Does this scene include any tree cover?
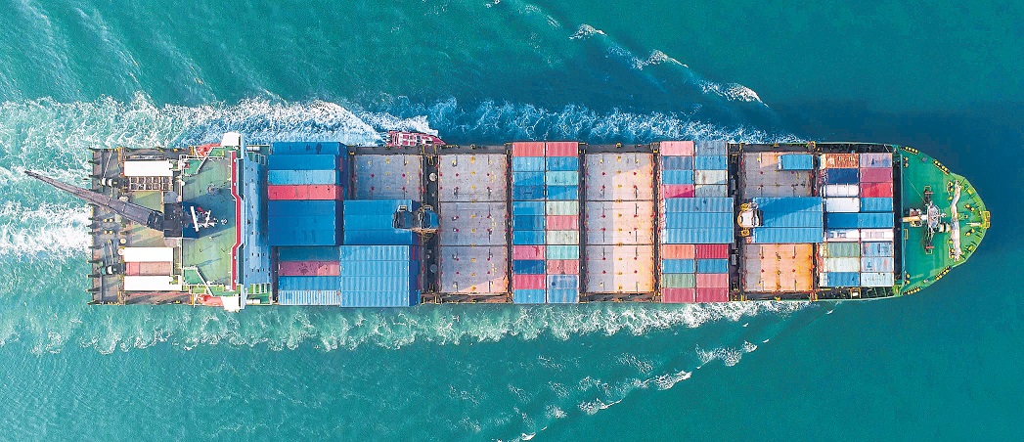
No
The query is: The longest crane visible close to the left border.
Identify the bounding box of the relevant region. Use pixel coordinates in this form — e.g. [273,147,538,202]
[21,170,202,238]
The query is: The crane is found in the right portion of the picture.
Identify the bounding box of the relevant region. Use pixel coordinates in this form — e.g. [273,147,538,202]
[726,203,763,234]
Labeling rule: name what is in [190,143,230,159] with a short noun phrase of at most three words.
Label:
boat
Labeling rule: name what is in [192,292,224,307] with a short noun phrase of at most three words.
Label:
boat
